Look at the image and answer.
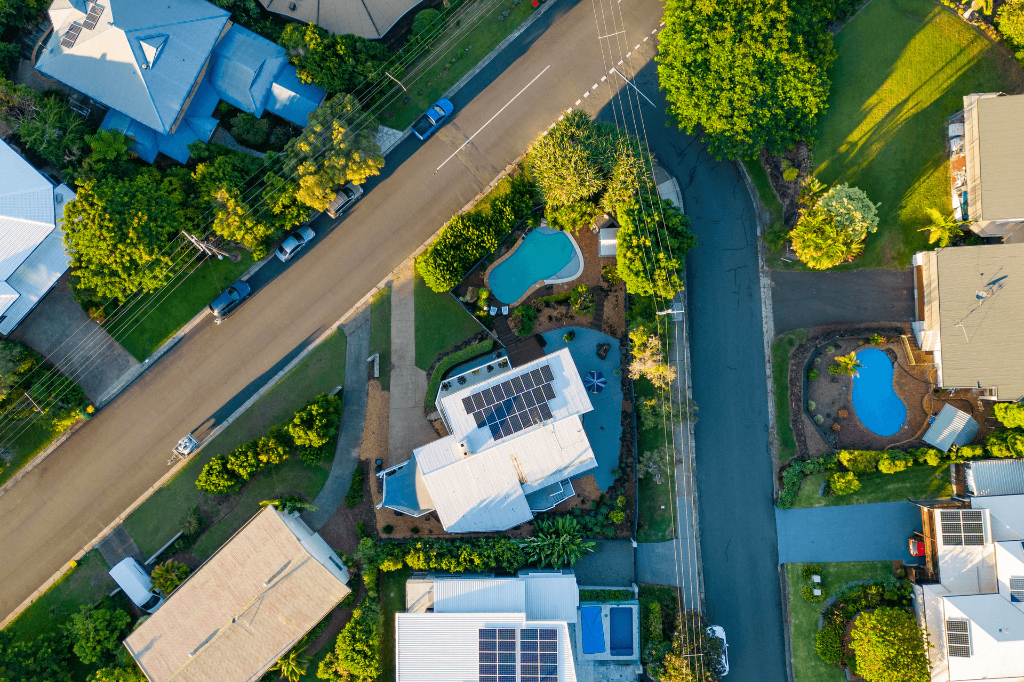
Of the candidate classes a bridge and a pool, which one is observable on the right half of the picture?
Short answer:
pool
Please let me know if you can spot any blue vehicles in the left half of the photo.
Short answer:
Yes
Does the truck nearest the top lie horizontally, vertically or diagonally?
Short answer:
diagonally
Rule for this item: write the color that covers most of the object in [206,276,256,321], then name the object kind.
blue car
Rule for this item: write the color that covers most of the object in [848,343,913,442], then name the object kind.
blue swimming pool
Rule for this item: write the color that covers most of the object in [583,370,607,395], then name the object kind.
blue umbrella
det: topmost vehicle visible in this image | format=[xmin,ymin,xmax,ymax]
[405,94,459,146]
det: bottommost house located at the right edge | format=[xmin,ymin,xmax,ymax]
[910,457,1024,682]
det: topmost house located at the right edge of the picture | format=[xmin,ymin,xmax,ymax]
[943,93,1024,244]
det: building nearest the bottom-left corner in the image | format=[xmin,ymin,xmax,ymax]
[122,503,353,682]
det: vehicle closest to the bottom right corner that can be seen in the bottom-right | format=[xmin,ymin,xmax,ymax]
[902,535,924,557]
